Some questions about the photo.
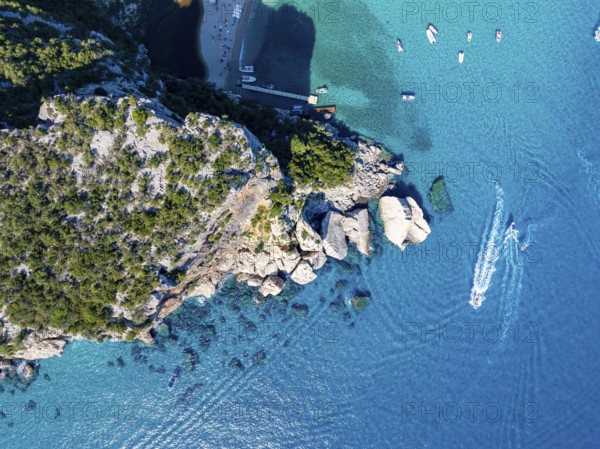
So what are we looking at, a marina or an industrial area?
marina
